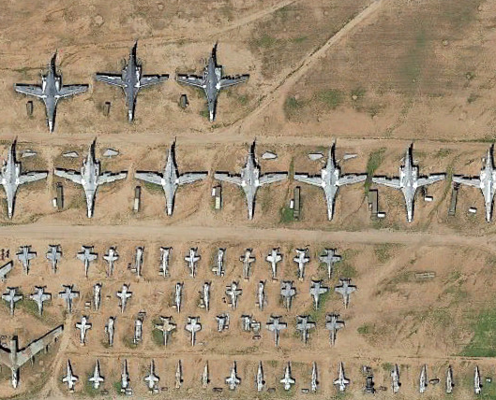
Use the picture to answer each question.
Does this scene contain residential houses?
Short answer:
No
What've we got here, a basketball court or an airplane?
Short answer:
airplane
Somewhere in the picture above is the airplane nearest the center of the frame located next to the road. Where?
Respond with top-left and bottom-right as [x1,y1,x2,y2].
[214,144,287,219]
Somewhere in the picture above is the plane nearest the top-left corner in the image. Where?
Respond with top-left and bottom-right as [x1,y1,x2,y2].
[15,58,89,133]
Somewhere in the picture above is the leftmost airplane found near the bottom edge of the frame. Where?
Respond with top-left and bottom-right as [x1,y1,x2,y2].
[0,325,62,388]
